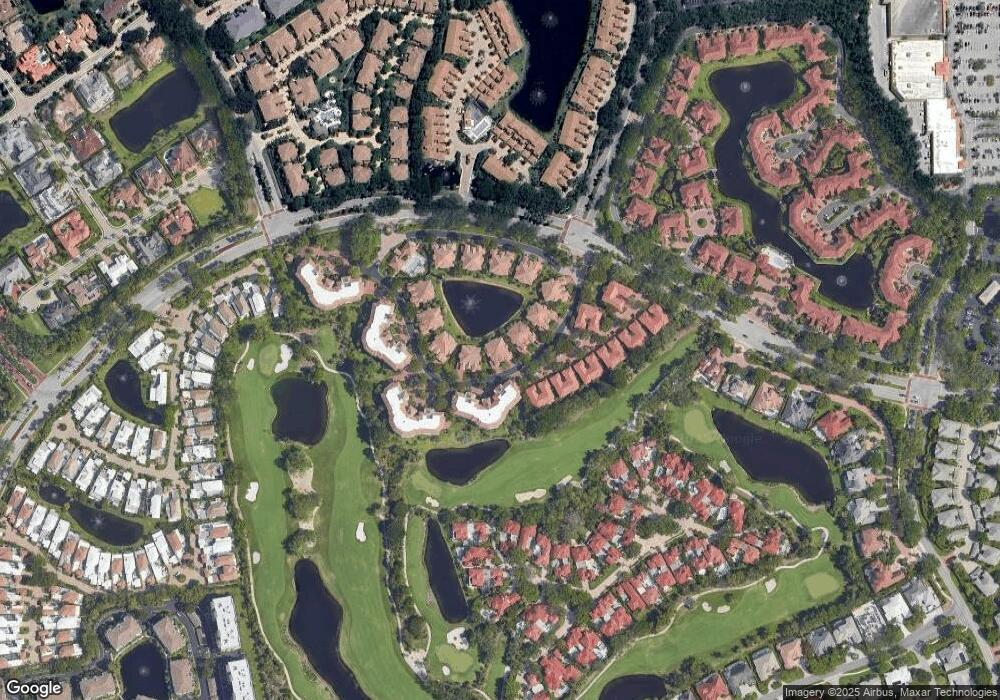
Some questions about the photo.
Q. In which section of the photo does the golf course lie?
bottom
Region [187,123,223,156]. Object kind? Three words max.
house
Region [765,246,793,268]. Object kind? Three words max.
swimming pool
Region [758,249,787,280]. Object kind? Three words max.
building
